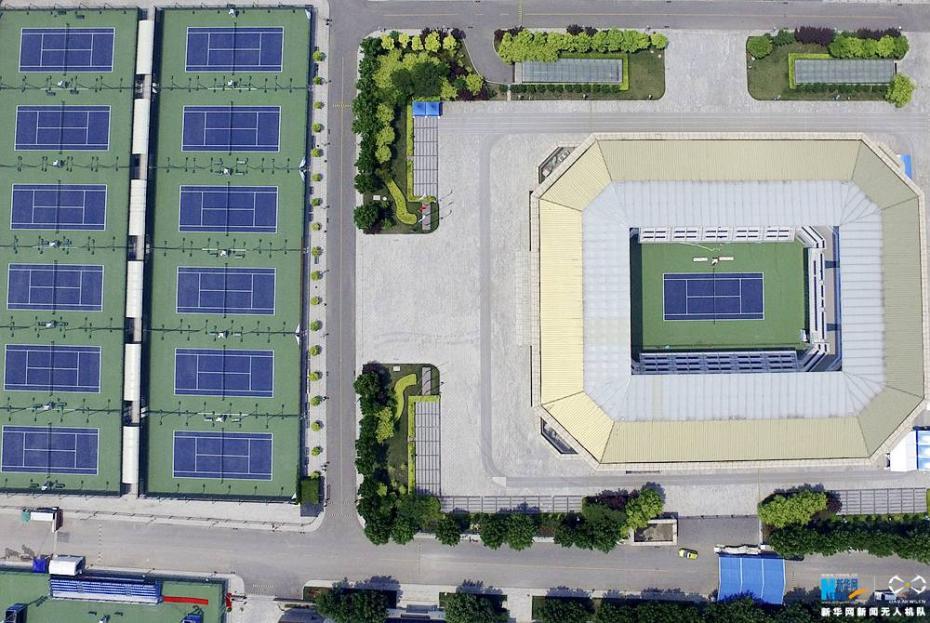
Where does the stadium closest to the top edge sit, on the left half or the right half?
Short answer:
right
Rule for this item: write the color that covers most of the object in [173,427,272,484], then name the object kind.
blue tennis court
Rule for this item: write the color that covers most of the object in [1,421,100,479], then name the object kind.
blue tennis court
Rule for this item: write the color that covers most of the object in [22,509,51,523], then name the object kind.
white vehicle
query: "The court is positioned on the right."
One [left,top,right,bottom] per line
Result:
[661,267,766,325]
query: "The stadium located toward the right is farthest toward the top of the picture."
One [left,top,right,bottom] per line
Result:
[514,133,930,472]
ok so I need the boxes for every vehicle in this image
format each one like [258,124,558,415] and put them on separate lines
[22,509,51,523]
[872,590,900,602]
[678,549,698,560]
